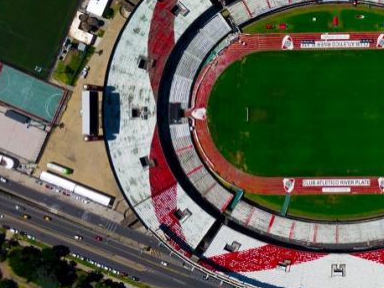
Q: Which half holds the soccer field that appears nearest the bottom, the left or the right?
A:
right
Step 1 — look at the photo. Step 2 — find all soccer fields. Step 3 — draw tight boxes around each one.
[0,0,81,79]
[207,48,384,177]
